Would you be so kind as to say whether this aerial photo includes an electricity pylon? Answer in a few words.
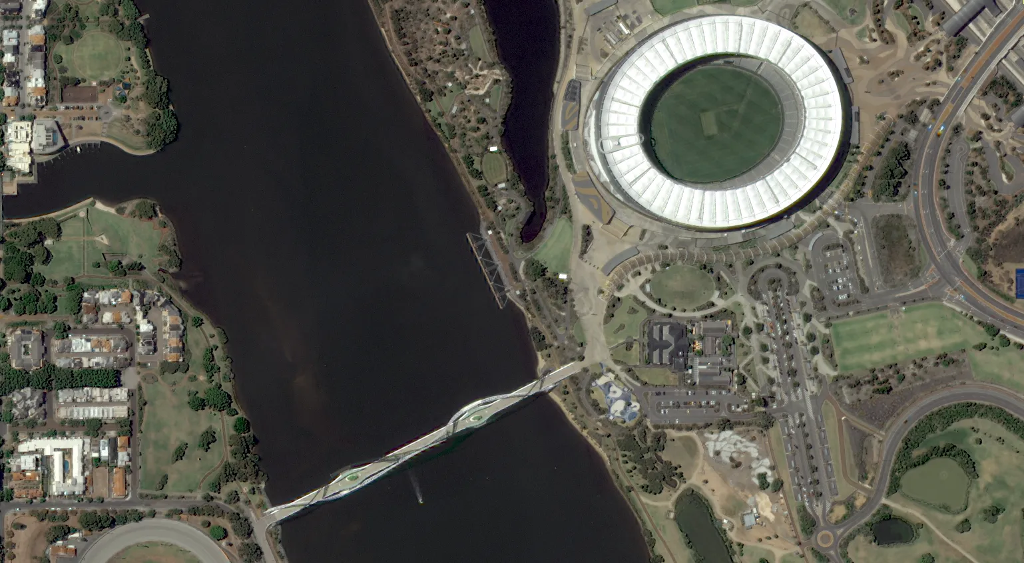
No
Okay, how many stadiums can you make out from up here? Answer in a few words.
1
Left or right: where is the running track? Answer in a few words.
left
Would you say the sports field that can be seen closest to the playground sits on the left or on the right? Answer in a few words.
right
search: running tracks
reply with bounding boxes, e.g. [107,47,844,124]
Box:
[76,514,233,563]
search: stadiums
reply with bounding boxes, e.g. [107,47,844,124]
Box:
[595,15,842,228]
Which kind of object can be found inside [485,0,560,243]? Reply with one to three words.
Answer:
pond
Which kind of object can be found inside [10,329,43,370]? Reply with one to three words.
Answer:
building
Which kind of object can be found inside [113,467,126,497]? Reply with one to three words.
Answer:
house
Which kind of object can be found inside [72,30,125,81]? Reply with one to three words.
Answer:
sports field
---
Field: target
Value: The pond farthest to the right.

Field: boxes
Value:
[901,458,971,513]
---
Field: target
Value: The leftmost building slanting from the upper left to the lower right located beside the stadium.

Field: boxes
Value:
[572,170,615,224]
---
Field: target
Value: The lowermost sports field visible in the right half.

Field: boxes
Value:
[651,264,715,312]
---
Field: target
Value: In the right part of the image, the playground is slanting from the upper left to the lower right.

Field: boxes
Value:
[595,363,641,422]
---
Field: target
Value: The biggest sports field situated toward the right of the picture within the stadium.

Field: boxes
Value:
[652,66,781,182]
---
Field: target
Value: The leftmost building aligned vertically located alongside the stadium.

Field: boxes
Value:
[561,79,581,130]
